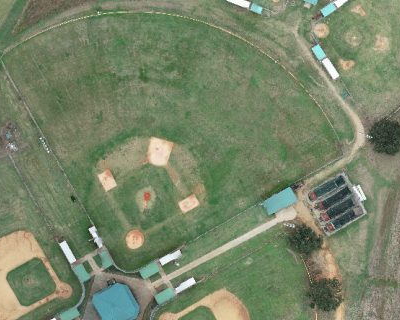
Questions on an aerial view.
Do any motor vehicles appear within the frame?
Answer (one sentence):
No, the frame has no motor vehicle in it.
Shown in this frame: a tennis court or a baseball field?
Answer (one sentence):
I can see a baseball field in this picture.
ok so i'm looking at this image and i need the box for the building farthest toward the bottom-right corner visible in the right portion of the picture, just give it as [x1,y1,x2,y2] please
[263,187,297,216]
